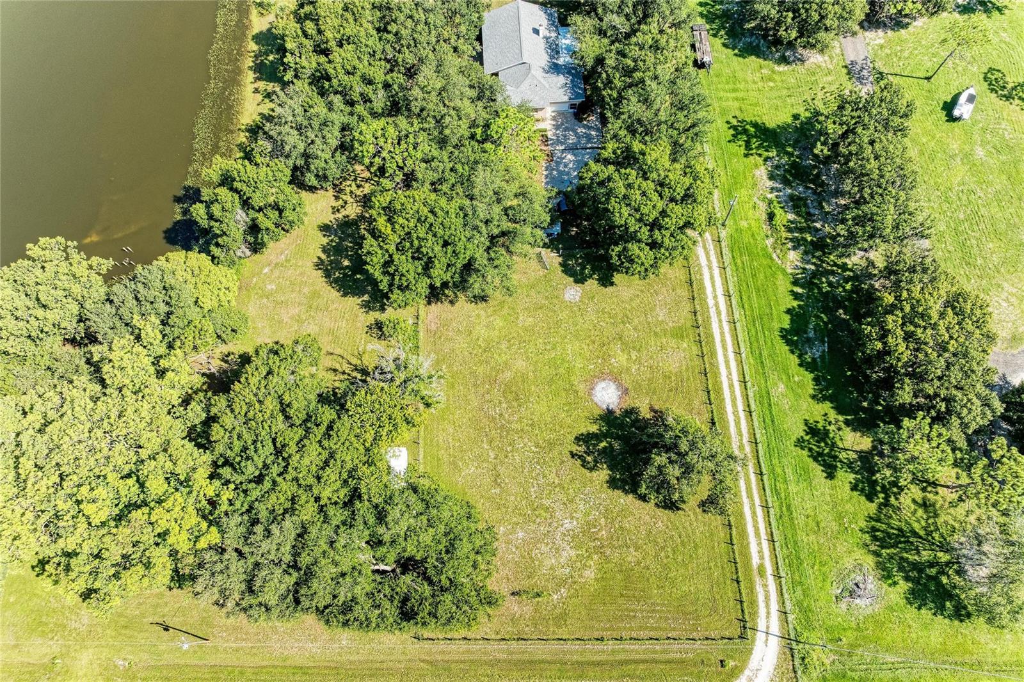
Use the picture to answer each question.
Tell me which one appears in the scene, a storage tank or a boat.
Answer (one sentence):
Looking from above, you can make out a boat.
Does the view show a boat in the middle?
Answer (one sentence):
No, in the middle there is no boat.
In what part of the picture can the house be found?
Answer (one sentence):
You can find the house in the top area of the picture.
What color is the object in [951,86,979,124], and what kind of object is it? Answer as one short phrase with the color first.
white boat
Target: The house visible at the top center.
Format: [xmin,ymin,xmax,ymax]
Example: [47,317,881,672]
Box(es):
[485,0,585,118]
